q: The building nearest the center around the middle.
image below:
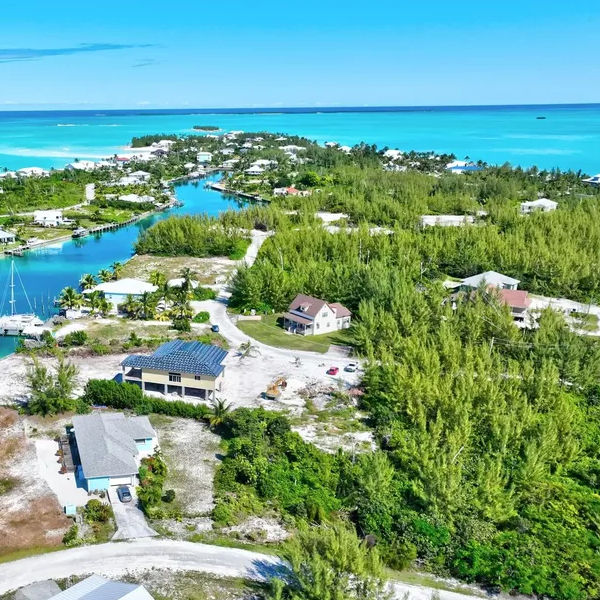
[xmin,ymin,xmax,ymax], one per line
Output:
[278,294,354,336]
